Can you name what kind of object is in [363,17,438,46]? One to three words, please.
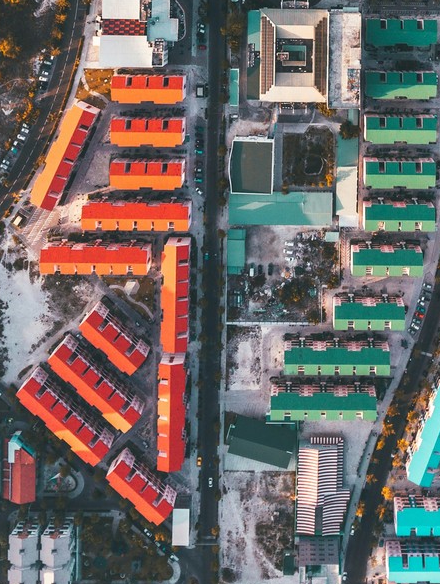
building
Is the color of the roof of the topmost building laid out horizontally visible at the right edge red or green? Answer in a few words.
green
